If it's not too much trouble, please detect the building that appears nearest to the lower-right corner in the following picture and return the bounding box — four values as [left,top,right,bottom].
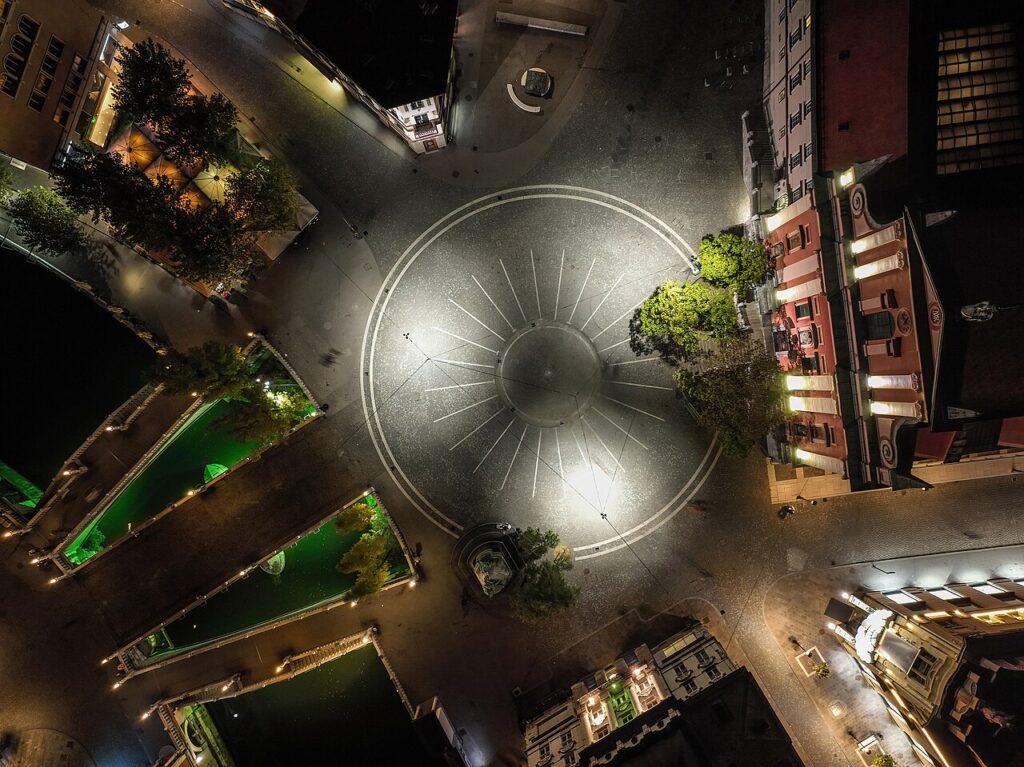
[818,572,1024,767]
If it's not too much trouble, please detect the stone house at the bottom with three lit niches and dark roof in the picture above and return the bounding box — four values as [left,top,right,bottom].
[525,622,817,767]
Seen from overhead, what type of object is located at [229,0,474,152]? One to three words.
house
